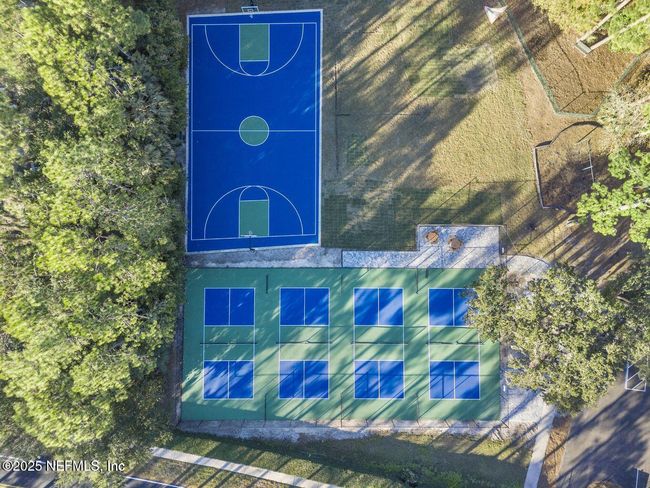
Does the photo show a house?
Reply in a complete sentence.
No, I find no house anywhere in the image.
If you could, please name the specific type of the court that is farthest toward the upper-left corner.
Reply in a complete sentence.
I'd identify the court that is farthest toward the upper-left corner as a basketball court.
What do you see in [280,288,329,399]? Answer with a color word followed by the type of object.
blue sports court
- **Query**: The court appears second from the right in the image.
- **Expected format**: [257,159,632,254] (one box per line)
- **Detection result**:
[354,288,404,399]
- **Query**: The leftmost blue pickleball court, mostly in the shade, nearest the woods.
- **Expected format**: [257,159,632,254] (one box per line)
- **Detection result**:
[204,288,255,399]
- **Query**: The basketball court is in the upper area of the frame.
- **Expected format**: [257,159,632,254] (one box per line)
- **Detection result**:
[185,9,323,252]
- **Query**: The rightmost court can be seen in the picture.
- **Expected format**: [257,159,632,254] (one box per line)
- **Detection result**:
[429,288,480,399]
